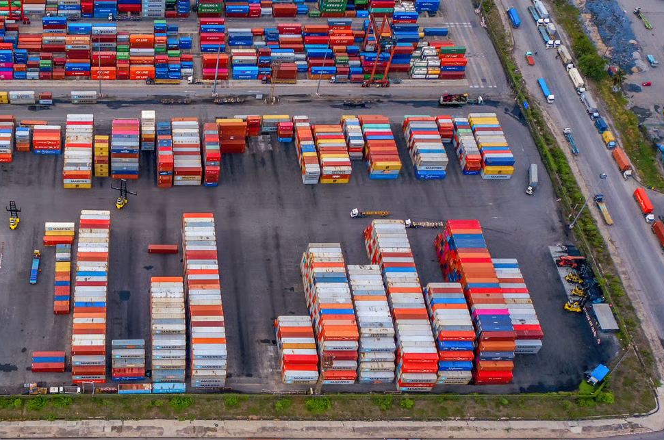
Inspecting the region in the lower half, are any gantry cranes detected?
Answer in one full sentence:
No, there is no gantry crane in the lower half.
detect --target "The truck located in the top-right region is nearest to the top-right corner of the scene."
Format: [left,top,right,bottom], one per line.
[631,6,653,28]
